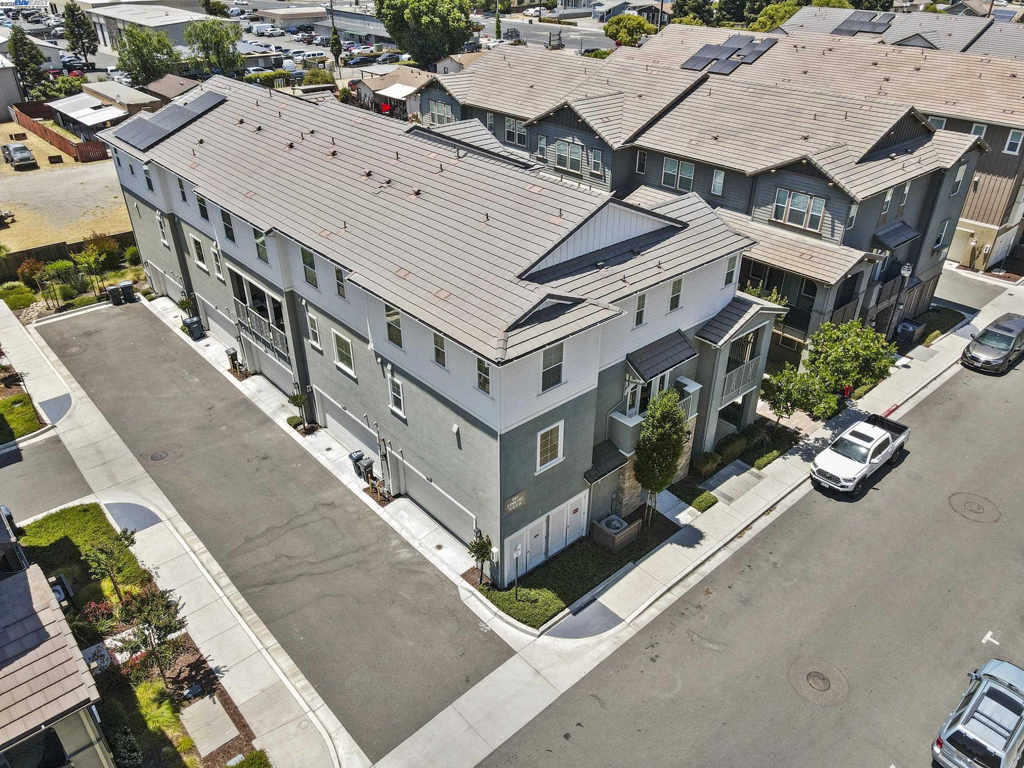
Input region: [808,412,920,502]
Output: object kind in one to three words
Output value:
truck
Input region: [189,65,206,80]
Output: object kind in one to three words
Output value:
car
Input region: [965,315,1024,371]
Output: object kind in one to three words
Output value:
car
